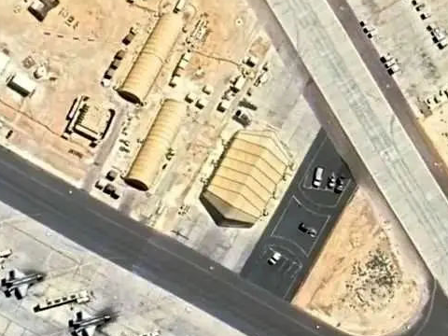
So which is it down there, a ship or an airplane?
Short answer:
airplane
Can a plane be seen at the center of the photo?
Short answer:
No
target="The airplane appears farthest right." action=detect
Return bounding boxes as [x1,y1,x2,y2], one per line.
[67,312,111,336]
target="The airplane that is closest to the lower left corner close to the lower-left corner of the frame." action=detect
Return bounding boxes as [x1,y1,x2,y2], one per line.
[0,270,43,299]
